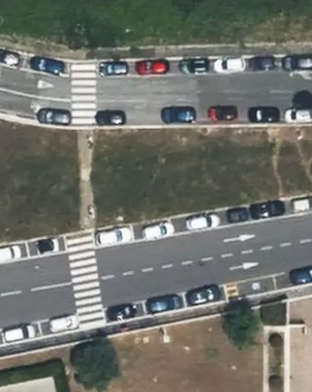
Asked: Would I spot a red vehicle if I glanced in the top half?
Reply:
Yes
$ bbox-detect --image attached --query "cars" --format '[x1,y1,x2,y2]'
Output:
[186,212,219,230]
[186,286,221,304]
[289,266,312,285]
[290,194,312,213]
[99,60,127,77]
[35,236,58,253]
[146,294,183,313]
[209,105,237,122]
[225,205,249,223]
[214,56,245,74]
[106,303,137,320]
[48,314,78,333]
[136,59,169,76]
[0,48,20,67]
[29,55,66,75]
[282,54,312,71]
[248,105,279,123]
[142,220,173,239]
[162,105,196,124]
[38,107,71,125]
[95,109,124,126]
[96,226,131,245]
[248,55,275,71]
[285,107,312,123]
[3,323,35,343]
[179,57,209,73]
[248,199,285,219]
